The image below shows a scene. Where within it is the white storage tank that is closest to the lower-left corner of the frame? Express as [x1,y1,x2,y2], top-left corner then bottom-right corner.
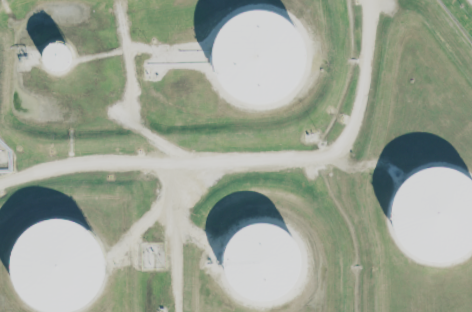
[7,218,106,312]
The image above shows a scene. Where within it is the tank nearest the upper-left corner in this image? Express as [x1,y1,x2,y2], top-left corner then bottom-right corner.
[40,42,72,75]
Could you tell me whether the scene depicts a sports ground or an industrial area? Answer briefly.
industrial area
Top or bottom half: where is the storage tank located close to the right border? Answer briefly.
bottom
